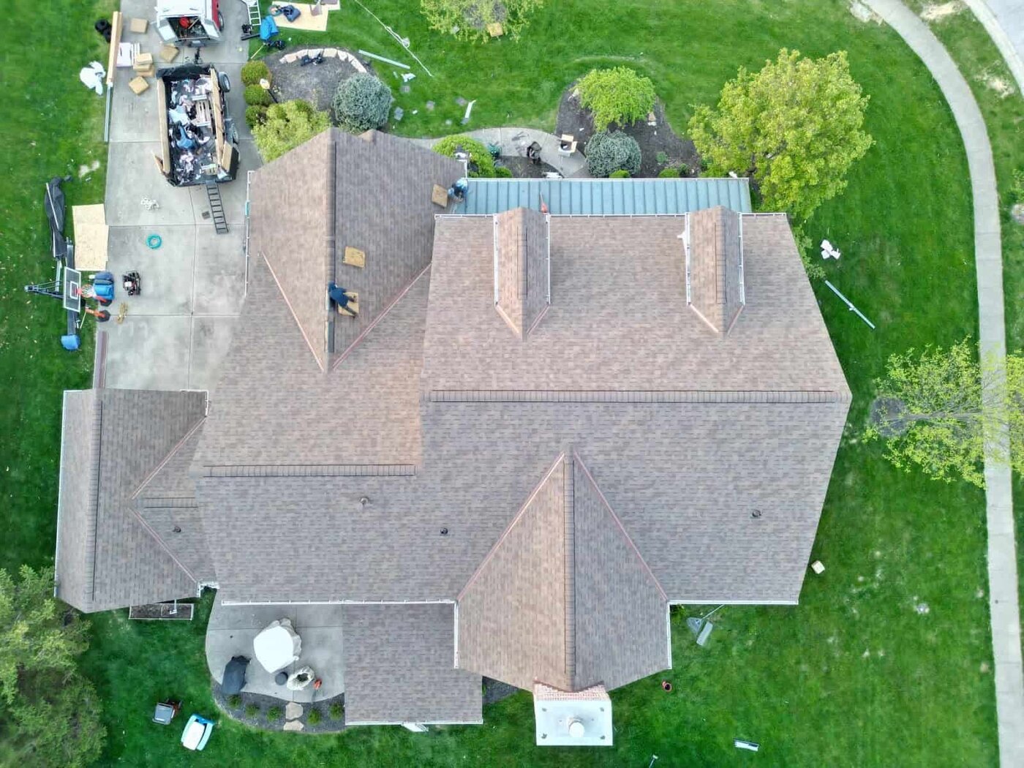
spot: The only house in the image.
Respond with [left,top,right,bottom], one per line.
[52,128,851,747]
